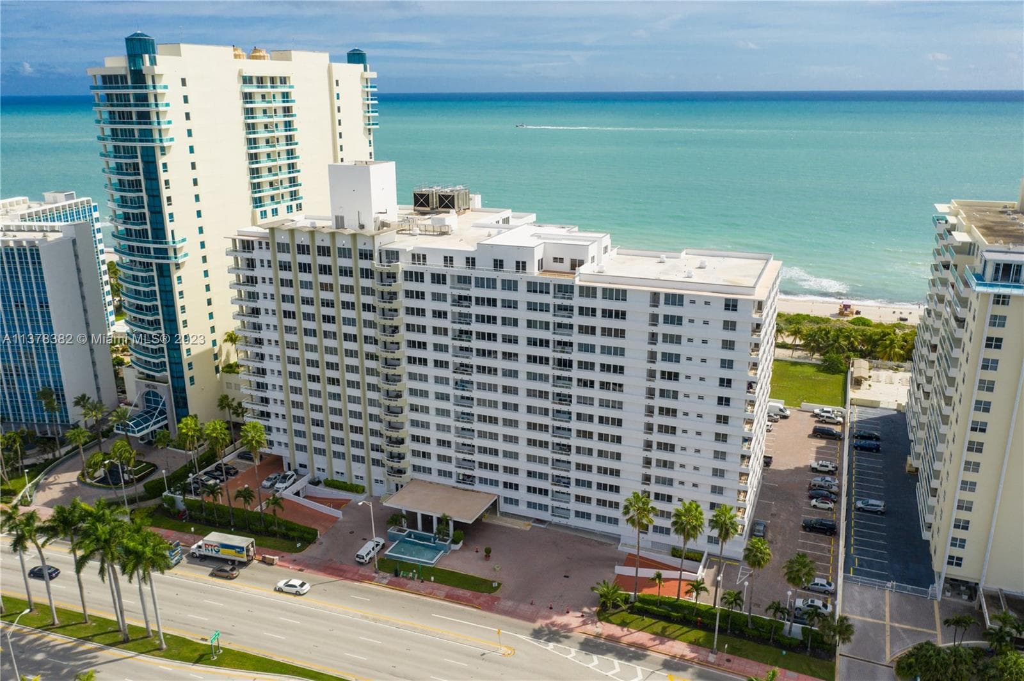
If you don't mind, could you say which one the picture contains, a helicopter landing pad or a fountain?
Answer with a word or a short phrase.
fountain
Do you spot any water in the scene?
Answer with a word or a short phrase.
Yes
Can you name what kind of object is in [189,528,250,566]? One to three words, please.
truck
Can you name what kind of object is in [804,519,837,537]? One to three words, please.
car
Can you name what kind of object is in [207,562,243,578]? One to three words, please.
car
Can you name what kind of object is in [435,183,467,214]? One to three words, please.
cooling tower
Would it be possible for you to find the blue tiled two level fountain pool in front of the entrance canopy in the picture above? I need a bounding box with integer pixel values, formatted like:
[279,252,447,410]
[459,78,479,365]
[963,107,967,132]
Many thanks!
[384,525,456,567]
